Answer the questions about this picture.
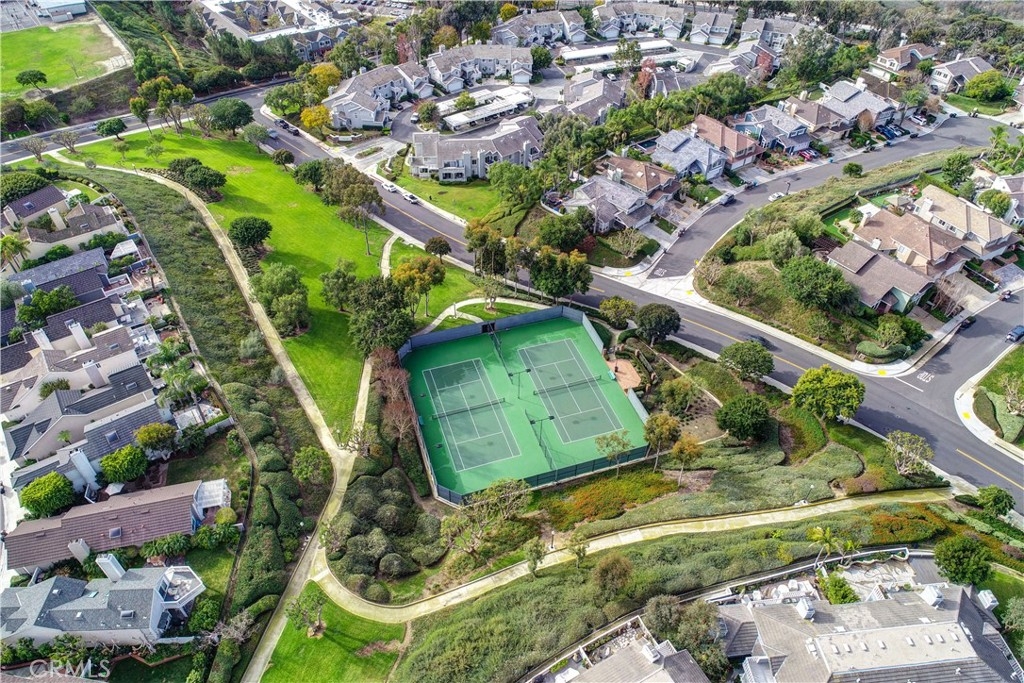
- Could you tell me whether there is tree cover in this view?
Yes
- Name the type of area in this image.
residential area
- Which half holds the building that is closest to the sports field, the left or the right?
left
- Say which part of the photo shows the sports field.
top left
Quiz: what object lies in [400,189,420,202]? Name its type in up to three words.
vehicle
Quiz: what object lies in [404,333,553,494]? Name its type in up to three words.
tennis court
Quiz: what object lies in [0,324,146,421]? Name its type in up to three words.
house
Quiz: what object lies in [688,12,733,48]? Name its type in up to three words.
house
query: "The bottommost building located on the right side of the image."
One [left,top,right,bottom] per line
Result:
[576,628,704,683]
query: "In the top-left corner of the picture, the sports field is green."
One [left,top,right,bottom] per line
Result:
[0,21,131,104]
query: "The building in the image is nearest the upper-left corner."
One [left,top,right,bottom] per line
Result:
[39,0,90,28]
